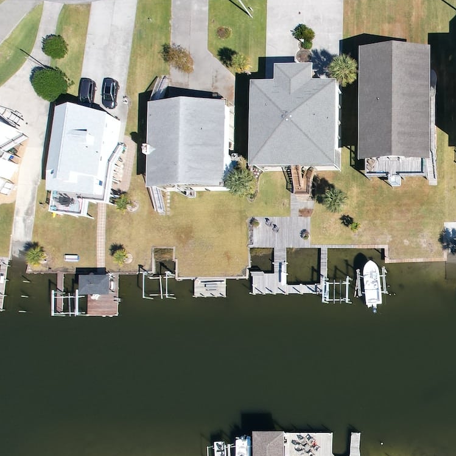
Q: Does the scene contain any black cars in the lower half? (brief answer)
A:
No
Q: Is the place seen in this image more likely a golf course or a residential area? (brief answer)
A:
residential area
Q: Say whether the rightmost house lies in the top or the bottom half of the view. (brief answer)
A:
top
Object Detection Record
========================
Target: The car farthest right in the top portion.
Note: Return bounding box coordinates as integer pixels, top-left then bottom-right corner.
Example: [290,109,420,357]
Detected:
[101,77,120,110]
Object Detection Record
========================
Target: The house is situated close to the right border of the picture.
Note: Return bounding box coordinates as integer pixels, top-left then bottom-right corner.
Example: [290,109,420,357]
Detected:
[358,40,437,187]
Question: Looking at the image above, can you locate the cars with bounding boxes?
[78,73,97,107]
[101,77,120,110]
